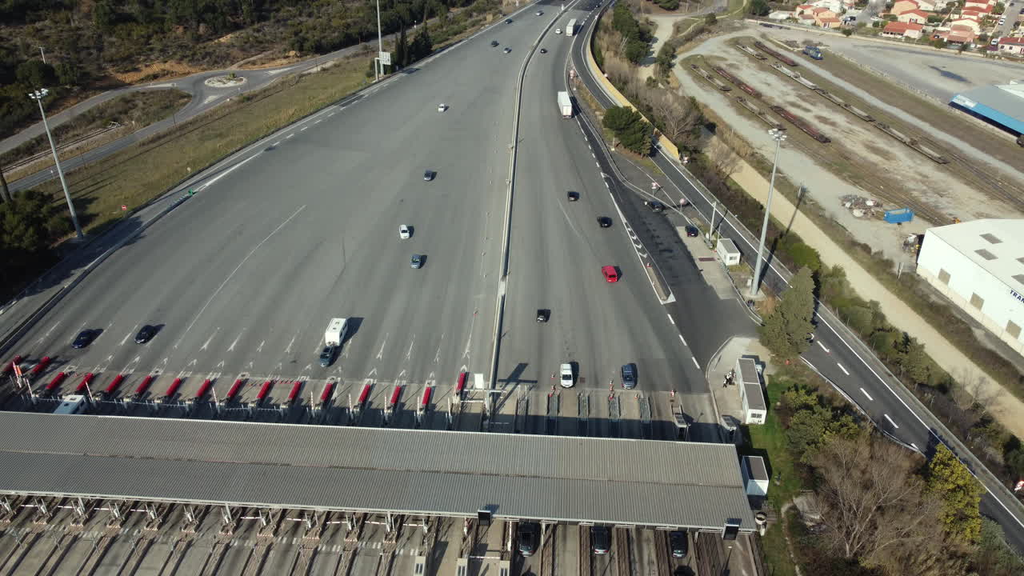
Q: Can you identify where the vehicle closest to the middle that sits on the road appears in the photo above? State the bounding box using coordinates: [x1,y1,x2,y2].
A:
[537,309,550,325]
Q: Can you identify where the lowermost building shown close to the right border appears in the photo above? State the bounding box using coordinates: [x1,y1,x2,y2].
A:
[917,214,1024,357]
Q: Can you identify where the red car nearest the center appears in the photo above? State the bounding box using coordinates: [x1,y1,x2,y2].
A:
[604,267,616,282]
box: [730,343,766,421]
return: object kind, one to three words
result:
building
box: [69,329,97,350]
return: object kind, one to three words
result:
car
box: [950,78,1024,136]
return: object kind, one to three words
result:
building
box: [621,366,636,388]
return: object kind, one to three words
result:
car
